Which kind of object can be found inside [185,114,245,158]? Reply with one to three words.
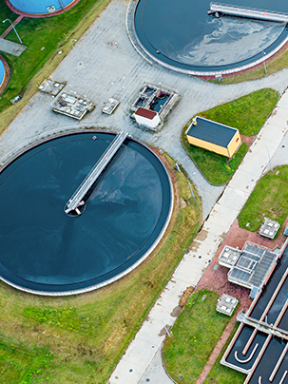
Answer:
building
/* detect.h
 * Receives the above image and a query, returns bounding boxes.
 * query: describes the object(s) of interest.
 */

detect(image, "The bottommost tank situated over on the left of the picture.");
[0,128,172,298]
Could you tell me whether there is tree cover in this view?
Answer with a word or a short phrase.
No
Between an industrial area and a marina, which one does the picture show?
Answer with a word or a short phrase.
industrial area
